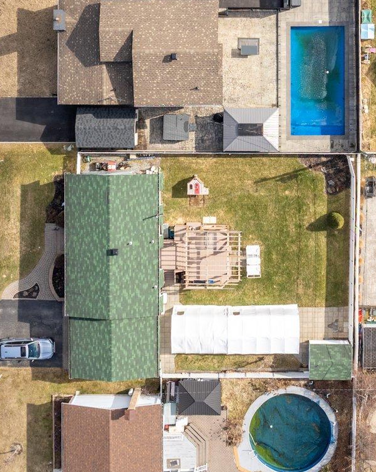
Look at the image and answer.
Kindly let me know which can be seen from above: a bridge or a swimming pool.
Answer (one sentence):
The image shows a swimming pool.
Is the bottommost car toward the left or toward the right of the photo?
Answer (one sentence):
You can find the bottommost car on the left side of the picture.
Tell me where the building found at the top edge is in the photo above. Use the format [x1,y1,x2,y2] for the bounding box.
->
[53,0,222,107]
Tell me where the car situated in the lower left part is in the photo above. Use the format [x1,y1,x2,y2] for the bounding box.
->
[0,335,55,363]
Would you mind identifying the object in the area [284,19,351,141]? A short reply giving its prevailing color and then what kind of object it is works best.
blue swimming pool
